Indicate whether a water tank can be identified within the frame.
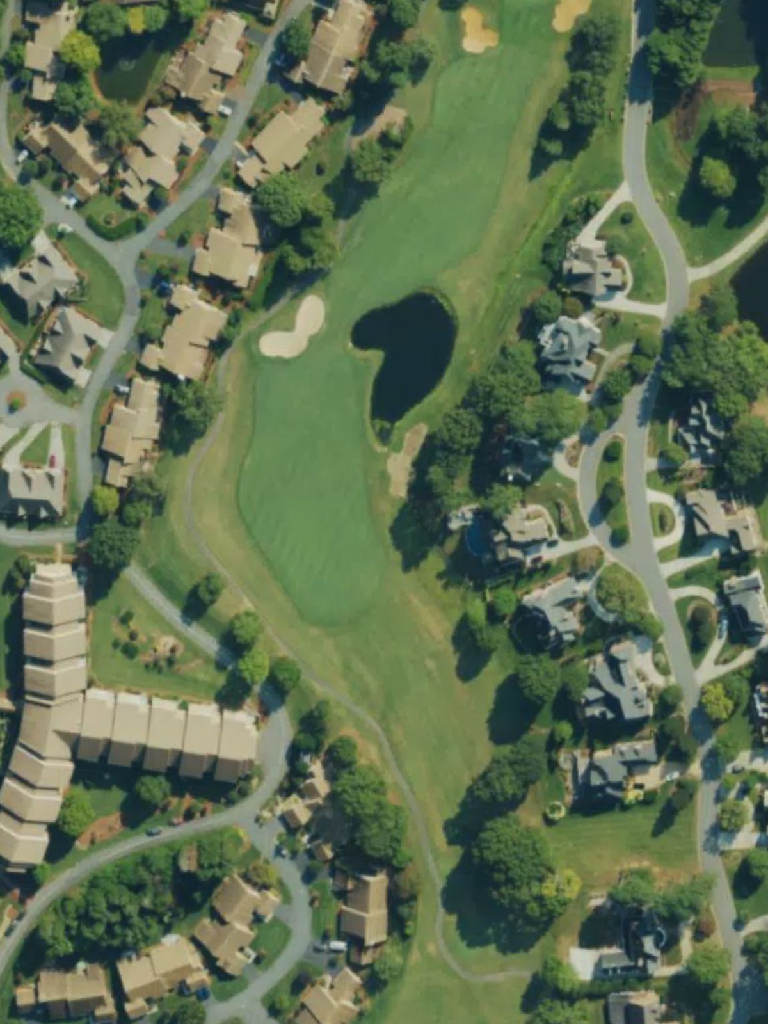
No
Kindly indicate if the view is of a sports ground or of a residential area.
residential area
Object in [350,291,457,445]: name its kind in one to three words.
pond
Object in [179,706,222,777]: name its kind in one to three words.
house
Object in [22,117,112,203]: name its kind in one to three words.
house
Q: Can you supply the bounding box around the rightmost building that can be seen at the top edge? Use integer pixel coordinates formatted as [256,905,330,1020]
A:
[288,0,378,95]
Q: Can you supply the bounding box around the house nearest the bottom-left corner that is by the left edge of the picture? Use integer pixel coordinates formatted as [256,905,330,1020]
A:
[15,956,117,1021]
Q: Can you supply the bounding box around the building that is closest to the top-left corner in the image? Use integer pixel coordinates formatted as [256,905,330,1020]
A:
[22,2,79,103]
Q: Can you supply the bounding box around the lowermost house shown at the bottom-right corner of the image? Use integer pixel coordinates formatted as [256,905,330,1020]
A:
[608,985,665,1024]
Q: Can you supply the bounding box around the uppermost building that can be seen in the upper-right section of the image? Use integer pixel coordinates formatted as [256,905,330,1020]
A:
[563,238,623,297]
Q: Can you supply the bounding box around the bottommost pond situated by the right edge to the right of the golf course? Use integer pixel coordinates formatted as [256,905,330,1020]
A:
[731,243,768,347]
